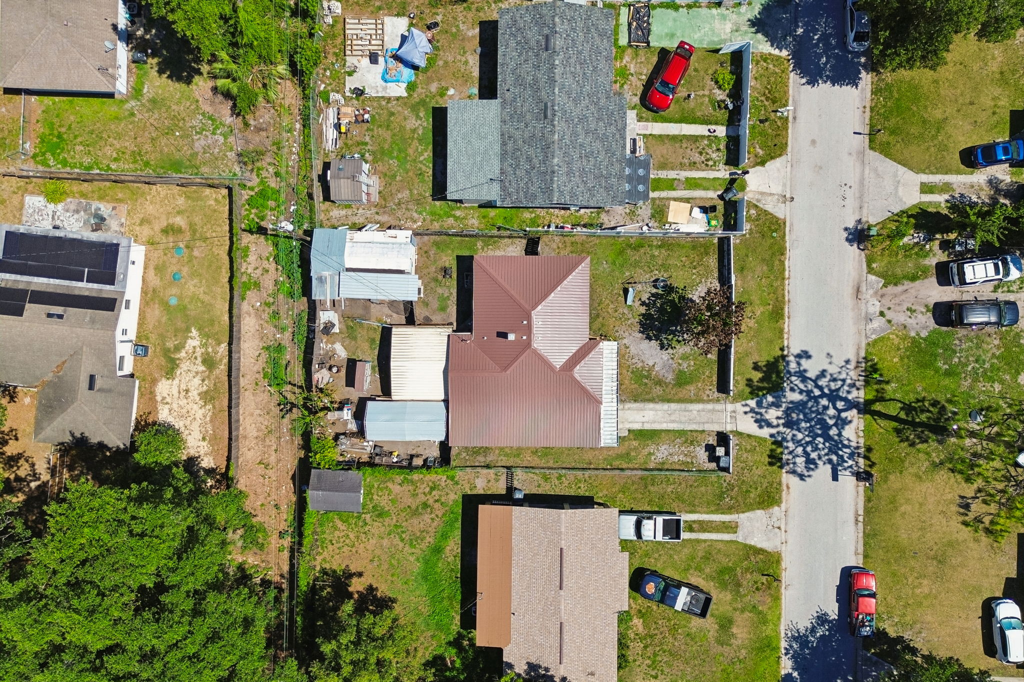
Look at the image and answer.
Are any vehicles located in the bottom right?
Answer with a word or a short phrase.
Yes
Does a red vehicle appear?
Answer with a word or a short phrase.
Yes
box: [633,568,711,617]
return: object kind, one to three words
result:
truck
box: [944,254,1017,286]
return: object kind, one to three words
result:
vehicle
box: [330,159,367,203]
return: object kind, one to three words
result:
shed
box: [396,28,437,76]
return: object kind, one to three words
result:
gazebo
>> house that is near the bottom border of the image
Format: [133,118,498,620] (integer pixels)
[476,505,629,682]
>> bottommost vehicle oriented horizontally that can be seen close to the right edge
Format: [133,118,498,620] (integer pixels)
[943,299,1016,330]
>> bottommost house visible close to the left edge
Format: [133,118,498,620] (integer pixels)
[0,223,149,452]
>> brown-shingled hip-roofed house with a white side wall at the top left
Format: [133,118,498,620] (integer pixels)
[1,0,126,95]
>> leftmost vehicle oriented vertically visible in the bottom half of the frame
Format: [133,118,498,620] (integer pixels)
[843,564,878,639]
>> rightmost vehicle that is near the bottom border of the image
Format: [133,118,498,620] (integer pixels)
[987,596,1024,663]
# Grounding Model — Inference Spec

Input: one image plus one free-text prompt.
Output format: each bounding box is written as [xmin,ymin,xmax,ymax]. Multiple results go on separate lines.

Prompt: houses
[0,223,149,452]
[446,0,626,207]
[449,254,610,447]
[1,0,126,95]
[476,505,629,682]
